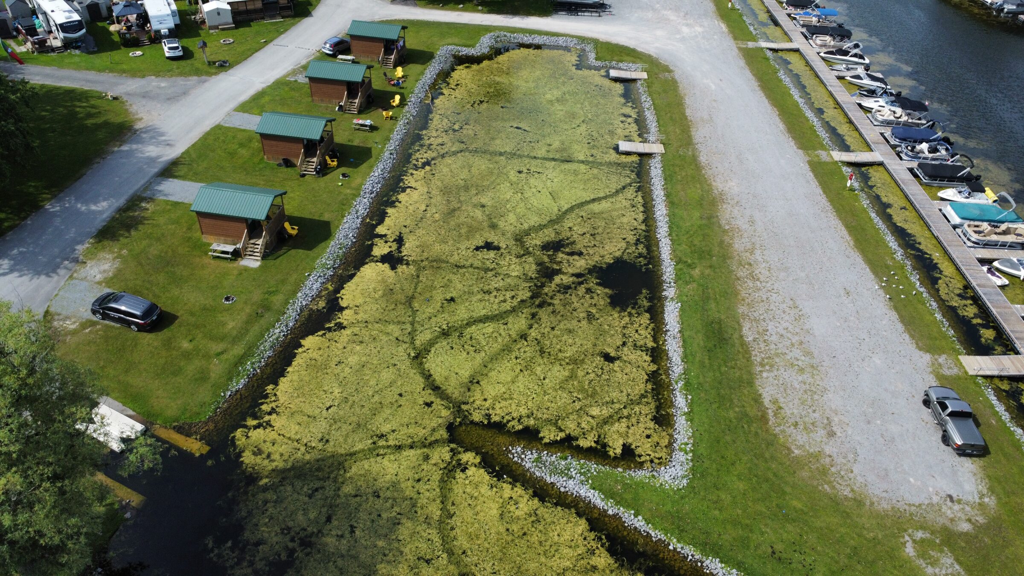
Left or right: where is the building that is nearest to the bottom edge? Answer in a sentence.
It is on the left.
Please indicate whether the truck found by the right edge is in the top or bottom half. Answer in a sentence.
The truck found by the right edge sits in the bottom half of the picture.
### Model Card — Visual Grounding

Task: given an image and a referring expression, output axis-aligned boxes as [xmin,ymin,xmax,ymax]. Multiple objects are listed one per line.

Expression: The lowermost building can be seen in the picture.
[189,184,290,260]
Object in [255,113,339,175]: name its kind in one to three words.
building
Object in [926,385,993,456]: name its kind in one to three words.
truck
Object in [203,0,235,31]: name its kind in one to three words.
shed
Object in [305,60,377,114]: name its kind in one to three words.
building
